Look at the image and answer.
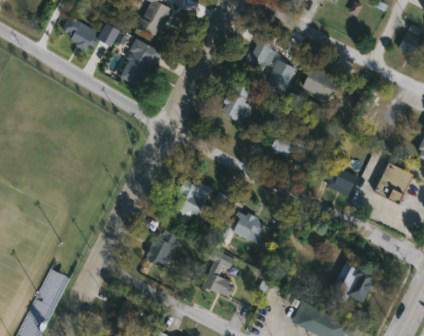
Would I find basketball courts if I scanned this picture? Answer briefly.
No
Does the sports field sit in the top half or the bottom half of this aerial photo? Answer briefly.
bottom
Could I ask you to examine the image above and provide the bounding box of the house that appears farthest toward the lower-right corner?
[334,262,374,302]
